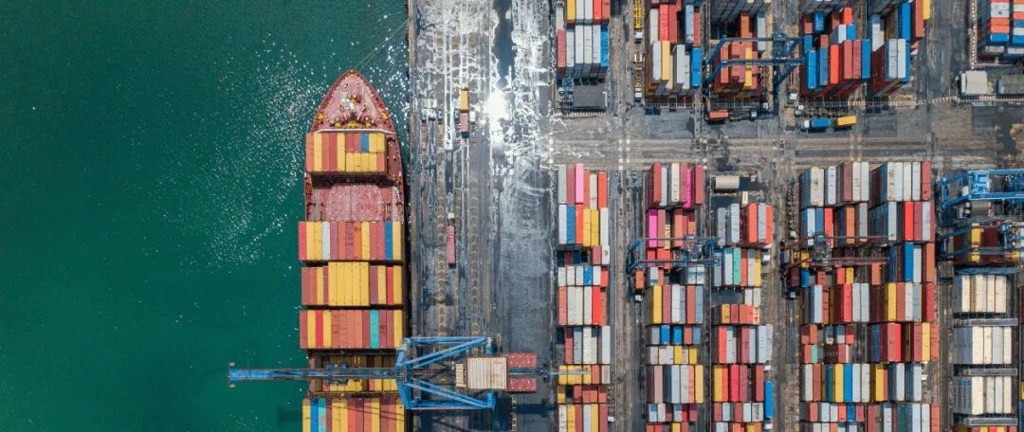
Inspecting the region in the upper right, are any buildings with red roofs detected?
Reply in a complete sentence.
No, I see no building with a red roof in the upper right.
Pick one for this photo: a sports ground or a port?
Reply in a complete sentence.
This looks like a port.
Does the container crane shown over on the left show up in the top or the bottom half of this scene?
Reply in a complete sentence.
The container crane shown over on the left is in the bottom half of the image.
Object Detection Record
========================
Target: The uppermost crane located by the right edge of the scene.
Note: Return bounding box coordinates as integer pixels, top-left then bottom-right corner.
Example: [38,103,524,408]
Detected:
[940,169,1024,213]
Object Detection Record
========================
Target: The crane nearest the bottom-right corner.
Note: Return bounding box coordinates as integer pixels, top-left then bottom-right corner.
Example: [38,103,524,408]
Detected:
[940,224,1024,261]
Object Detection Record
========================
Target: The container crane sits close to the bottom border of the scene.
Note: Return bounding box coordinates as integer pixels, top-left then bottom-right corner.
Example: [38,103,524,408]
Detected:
[227,332,590,414]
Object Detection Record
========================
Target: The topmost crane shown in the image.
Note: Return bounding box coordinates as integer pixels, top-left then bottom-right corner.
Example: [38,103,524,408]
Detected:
[703,36,804,91]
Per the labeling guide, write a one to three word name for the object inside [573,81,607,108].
building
